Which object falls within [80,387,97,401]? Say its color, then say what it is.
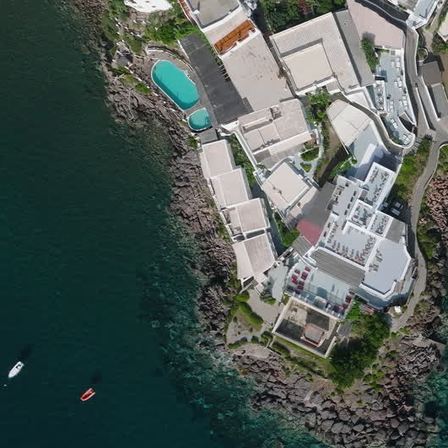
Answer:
red boat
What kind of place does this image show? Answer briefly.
residential area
